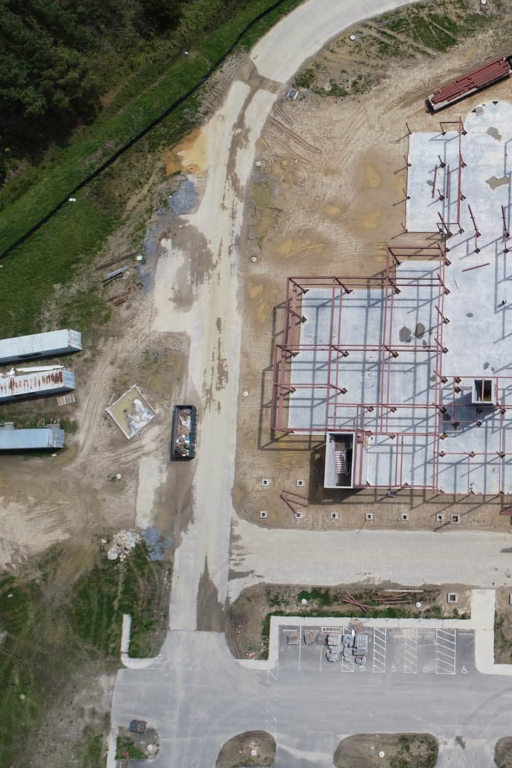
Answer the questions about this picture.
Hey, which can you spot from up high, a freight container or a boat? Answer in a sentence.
Of the two, only a freight container appears.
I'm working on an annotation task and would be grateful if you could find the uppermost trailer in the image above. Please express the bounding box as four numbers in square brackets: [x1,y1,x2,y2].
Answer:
[427,55,512,111]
